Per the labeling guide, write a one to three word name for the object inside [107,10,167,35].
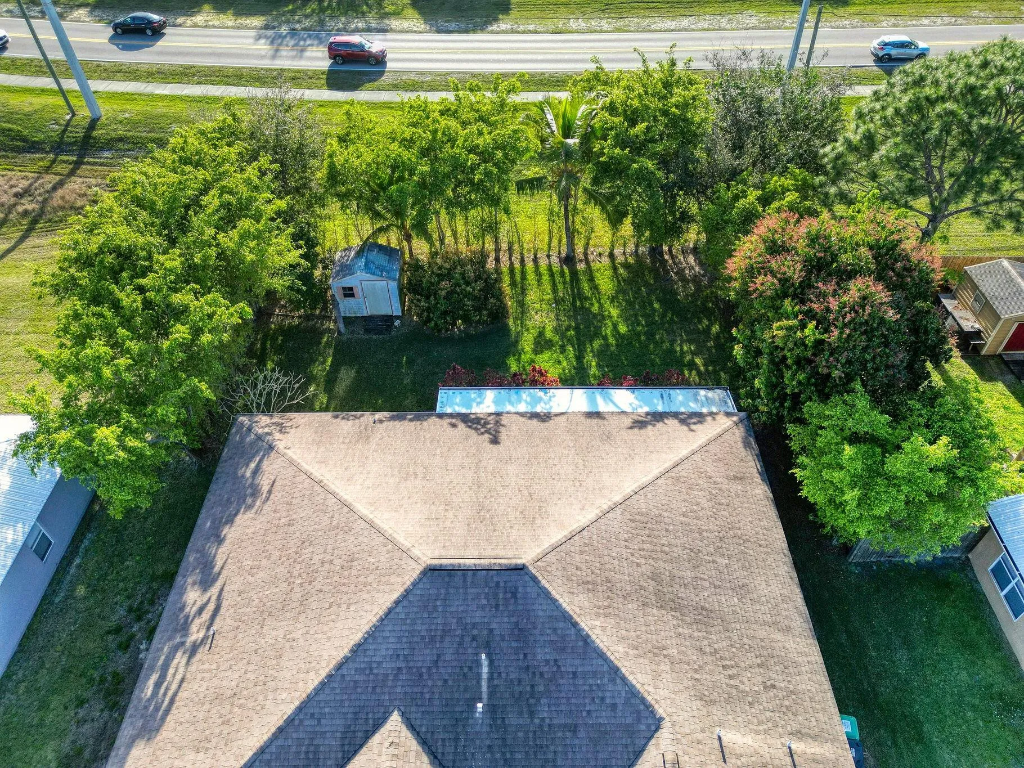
car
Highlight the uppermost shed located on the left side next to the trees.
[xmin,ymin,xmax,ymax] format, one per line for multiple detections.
[331,239,406,321]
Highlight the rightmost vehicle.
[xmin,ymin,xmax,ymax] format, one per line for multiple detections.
[868,31,929,59]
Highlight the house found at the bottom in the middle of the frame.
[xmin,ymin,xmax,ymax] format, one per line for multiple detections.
[104,414,853,768]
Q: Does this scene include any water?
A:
No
